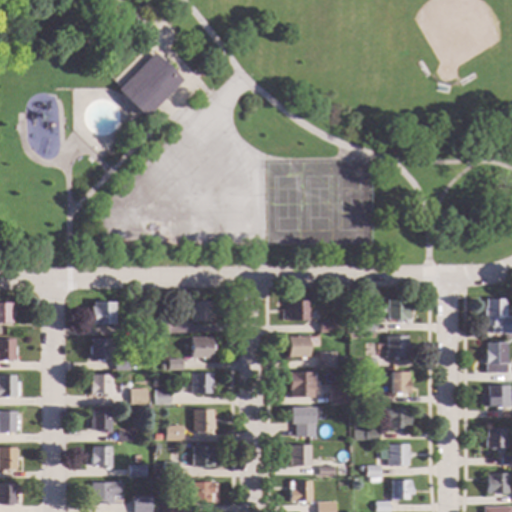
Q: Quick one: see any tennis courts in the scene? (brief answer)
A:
Yes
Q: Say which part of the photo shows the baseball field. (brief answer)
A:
top right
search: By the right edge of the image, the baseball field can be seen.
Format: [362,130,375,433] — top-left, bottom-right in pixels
[414,0,502,82]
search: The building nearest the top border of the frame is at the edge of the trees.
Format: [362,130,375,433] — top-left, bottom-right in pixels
[121,54,180,111]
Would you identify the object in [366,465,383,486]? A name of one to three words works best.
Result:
building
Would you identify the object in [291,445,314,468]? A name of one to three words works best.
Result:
house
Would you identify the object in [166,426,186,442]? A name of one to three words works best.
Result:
building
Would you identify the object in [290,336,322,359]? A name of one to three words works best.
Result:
house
